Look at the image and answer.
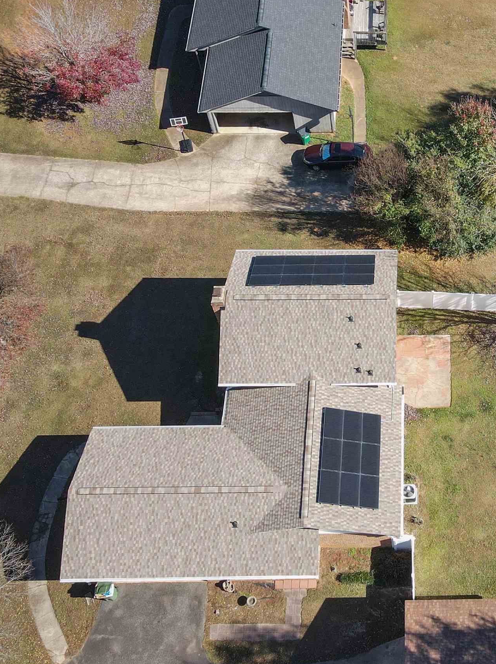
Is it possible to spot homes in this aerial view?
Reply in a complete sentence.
Yes, the image includes a home.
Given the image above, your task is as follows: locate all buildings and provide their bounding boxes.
[405,598,496,664]
[185,0,352,131]
[60,248,407,589]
